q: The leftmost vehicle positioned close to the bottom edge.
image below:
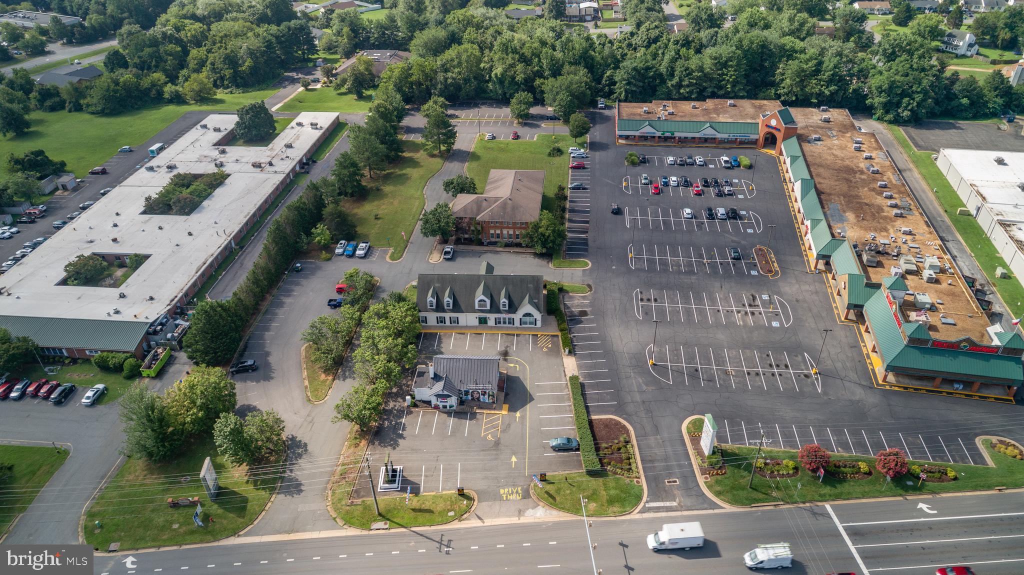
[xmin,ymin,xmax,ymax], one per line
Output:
[648,519,706,550]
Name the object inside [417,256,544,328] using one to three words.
building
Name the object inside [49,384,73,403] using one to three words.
car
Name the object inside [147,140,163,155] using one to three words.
vehicle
